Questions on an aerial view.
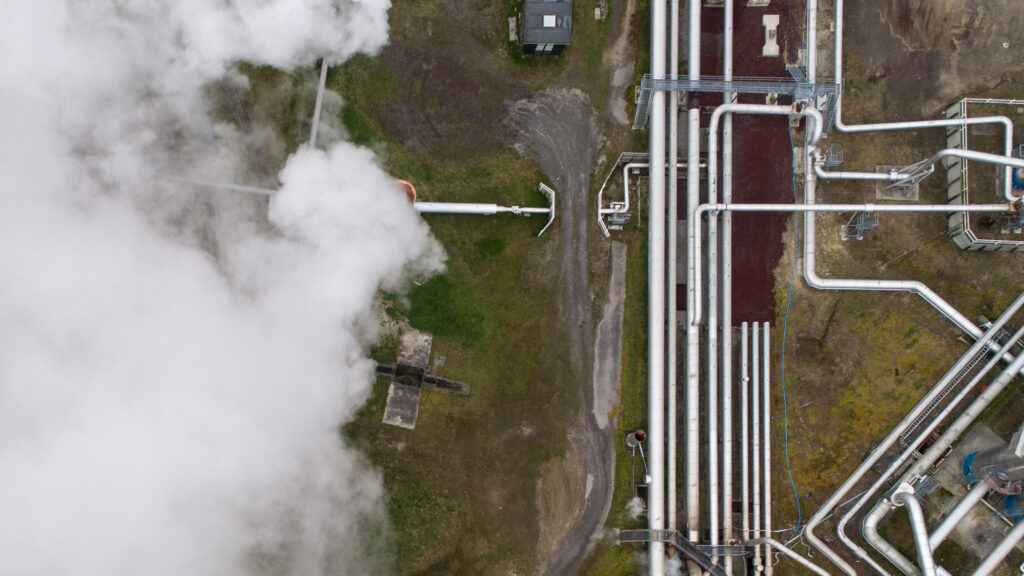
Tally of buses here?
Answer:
0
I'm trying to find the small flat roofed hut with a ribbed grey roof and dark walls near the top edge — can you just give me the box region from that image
[524,0,572,54]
